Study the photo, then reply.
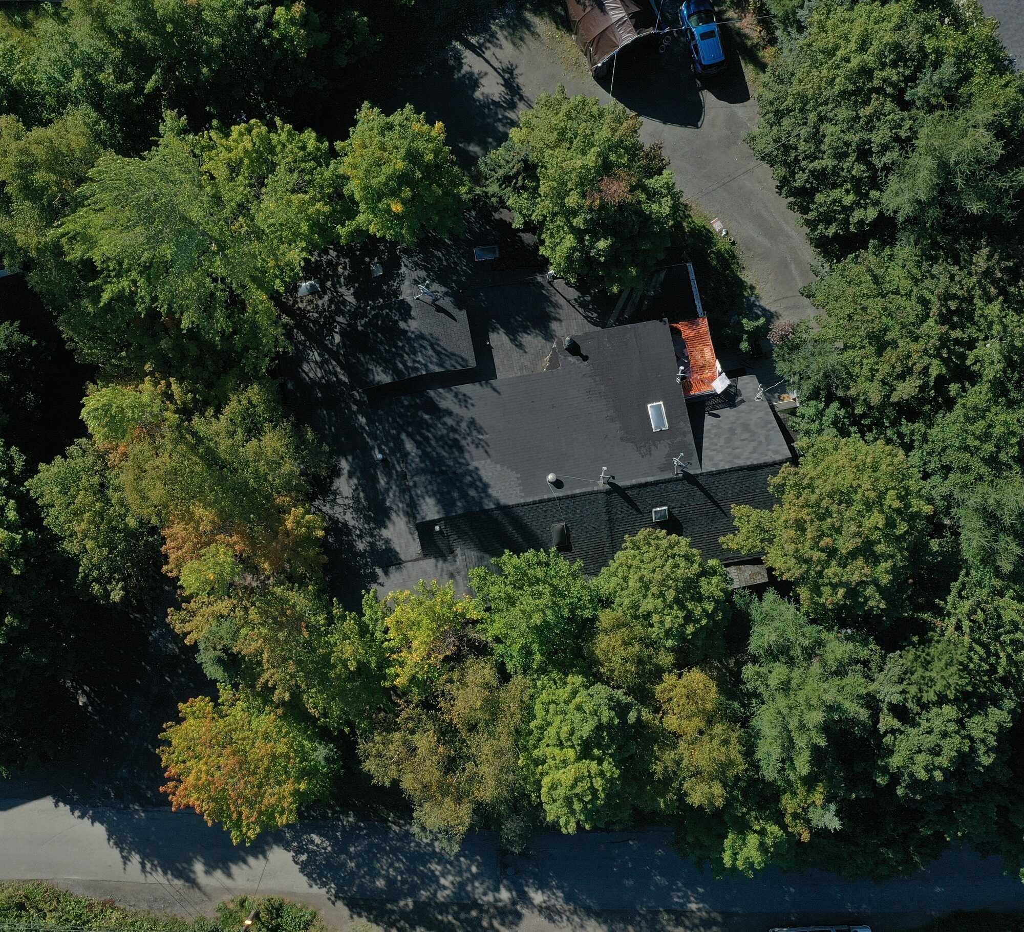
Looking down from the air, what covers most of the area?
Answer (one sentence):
What you mostly see from above here is trees.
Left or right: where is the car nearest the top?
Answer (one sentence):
You can find the car nearest the top on the right side of the picture.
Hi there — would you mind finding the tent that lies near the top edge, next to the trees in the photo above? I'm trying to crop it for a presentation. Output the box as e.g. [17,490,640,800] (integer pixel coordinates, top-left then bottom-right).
[567,0,688,82]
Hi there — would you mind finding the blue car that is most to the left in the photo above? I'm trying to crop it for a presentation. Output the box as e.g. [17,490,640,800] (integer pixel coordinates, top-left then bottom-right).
[678,2,726,86]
